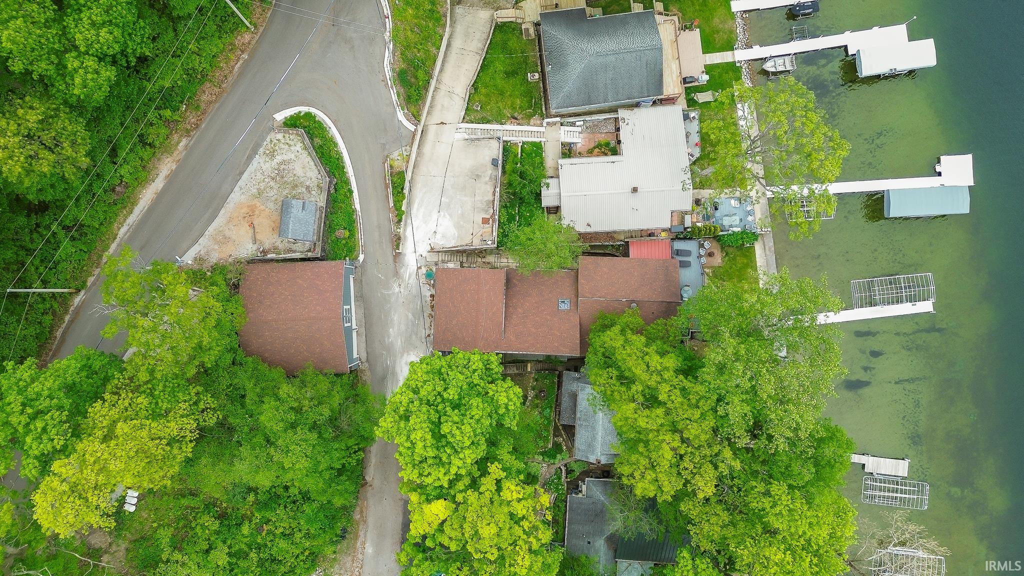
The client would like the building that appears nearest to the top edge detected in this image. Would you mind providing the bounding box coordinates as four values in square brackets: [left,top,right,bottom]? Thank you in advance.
[540,6,664,114]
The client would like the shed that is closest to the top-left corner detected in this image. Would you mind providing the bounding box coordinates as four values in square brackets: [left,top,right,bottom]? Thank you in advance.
[279,199,320,242]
